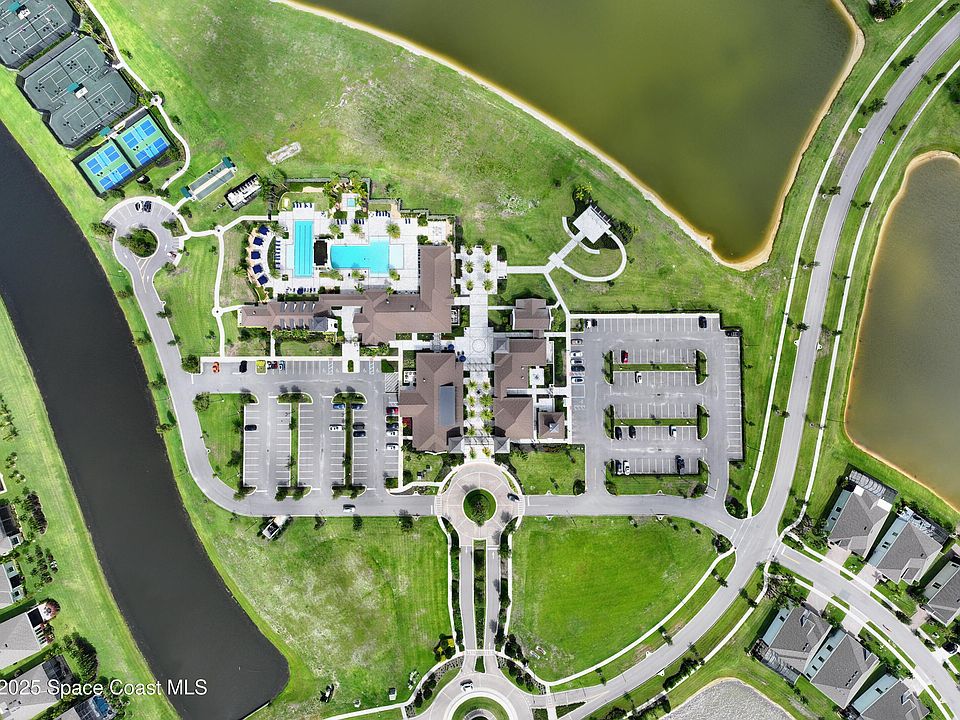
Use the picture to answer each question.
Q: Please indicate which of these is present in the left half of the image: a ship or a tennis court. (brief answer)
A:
tennis court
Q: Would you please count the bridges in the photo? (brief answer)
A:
none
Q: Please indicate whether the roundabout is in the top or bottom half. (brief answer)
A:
bottom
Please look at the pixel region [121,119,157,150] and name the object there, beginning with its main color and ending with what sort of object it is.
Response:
blue sports court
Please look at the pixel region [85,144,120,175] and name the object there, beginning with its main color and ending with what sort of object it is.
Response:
blue sports court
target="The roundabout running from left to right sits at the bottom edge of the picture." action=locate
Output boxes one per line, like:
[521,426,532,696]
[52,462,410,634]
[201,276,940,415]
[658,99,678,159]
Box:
[429,652,608,720]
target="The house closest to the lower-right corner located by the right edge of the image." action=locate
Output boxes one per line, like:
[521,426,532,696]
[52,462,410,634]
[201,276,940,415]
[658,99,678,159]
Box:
[847,673,929,720]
